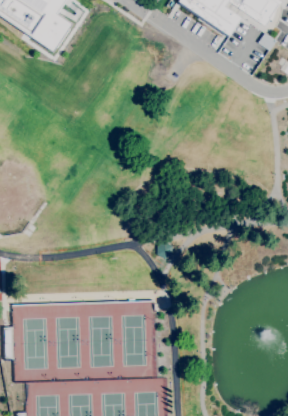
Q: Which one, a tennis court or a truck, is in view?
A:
tennis court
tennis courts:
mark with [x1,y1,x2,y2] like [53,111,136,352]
[22,318,48,369]
[102,392,127,416]
[123,315,149,366]
[90,316,115,367]
[70,394,94,416]
[56,317,82,368]
[37,394,61,416]
[136,392,160,416]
